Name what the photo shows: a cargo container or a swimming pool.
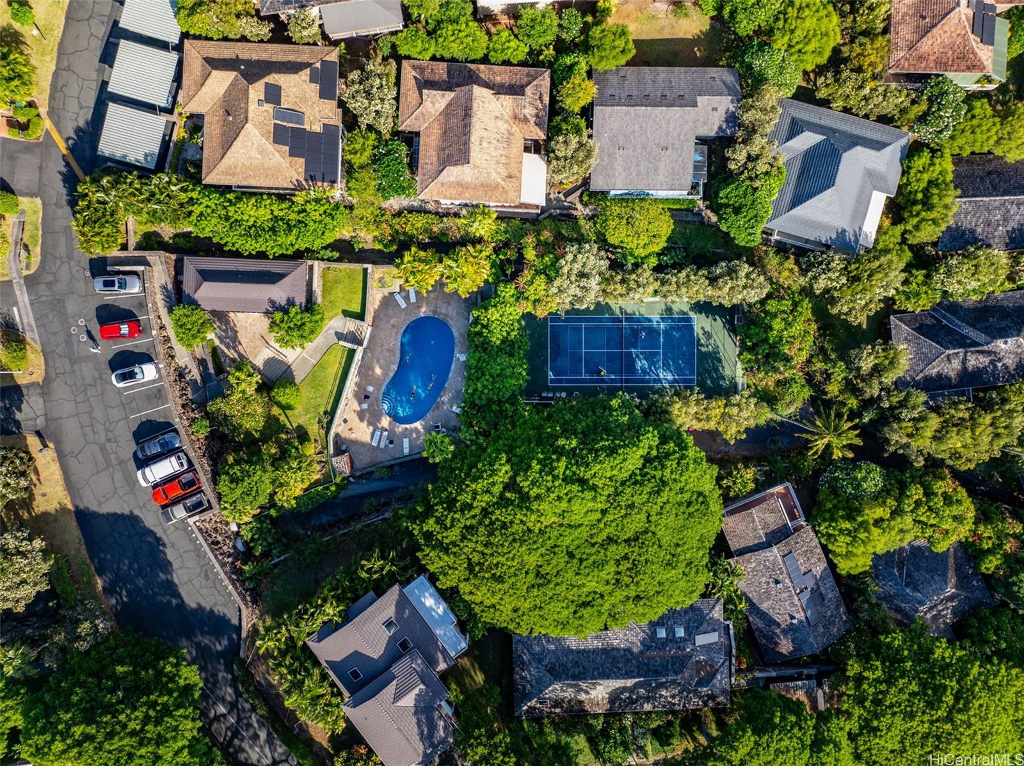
swimming pool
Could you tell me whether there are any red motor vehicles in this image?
Yes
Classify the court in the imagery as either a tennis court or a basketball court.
tennis court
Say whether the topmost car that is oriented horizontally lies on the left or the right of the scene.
left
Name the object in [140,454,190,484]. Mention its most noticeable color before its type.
white van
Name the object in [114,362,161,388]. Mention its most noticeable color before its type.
white car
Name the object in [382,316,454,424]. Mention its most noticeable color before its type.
blue swimming pool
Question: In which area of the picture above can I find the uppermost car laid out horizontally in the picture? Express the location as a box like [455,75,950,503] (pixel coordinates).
[97,273,144,295]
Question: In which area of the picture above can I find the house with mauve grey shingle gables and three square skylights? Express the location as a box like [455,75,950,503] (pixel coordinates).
[306,575,468,766]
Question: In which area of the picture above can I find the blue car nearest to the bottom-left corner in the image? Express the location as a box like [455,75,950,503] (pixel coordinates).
[138,430,184,457]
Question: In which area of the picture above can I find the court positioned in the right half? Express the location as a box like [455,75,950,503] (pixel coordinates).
[516,298,742,415]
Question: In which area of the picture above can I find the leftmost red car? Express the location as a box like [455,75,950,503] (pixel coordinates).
[102,320,145,341]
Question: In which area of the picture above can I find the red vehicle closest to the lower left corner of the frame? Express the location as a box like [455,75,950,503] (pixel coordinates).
[156,473,205,503]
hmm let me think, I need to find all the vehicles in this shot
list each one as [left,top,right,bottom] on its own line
[156,473,205,503]
[138,430,184,457]
[165,493,212,523]
[102,320,145,341]
[140,454,190,484]
[114,362,161,388]
[97,273,144,295]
